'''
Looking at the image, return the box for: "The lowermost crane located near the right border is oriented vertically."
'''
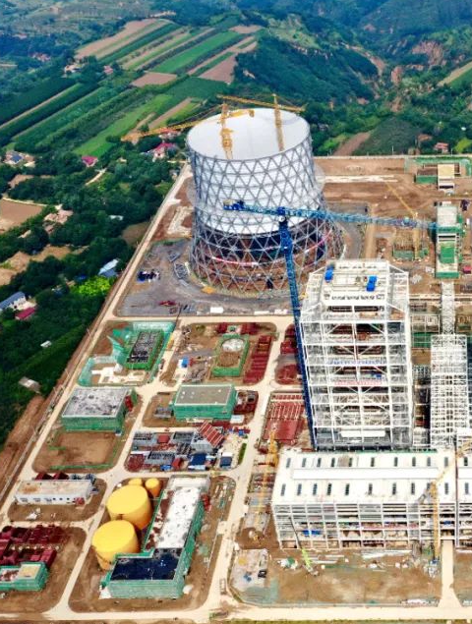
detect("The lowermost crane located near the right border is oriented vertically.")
[417,433,472,568]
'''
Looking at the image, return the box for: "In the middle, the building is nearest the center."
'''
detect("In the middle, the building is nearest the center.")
[212,336,252,376]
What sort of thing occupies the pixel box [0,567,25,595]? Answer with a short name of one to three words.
building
